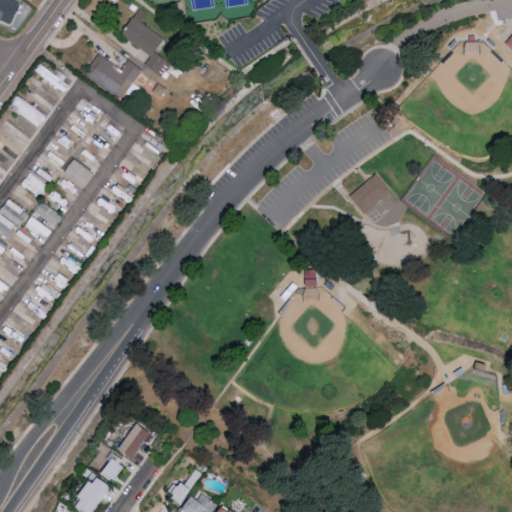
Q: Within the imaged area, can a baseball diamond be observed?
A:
Yes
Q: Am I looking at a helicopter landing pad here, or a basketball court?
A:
basketball court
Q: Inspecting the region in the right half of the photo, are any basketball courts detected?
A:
Yes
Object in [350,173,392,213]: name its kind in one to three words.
building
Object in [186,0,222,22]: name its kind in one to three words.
tennis court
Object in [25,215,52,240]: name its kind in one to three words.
house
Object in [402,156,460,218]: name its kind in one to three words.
basketball court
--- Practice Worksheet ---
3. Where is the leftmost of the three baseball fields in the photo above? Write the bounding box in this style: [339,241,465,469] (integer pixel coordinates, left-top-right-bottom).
[236,291,398,411]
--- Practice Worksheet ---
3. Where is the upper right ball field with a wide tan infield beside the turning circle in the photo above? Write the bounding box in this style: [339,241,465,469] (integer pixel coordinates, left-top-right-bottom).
[400,40,512,159]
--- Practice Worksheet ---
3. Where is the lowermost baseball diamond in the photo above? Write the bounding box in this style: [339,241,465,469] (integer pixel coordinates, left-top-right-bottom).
[361,386,512,512]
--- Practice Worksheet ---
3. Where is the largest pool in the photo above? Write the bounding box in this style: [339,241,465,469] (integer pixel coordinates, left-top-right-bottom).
[202,474,230,496]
